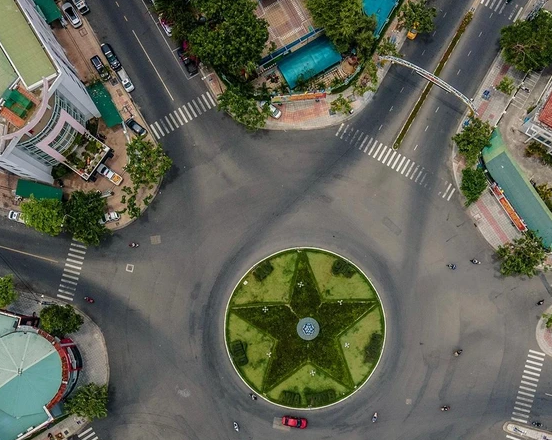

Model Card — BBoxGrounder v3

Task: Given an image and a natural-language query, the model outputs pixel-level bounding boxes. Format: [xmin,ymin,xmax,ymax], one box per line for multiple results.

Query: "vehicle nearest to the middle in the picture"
[266,102,283,120]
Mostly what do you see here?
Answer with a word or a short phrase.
paved ground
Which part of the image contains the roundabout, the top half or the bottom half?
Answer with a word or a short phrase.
bottom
